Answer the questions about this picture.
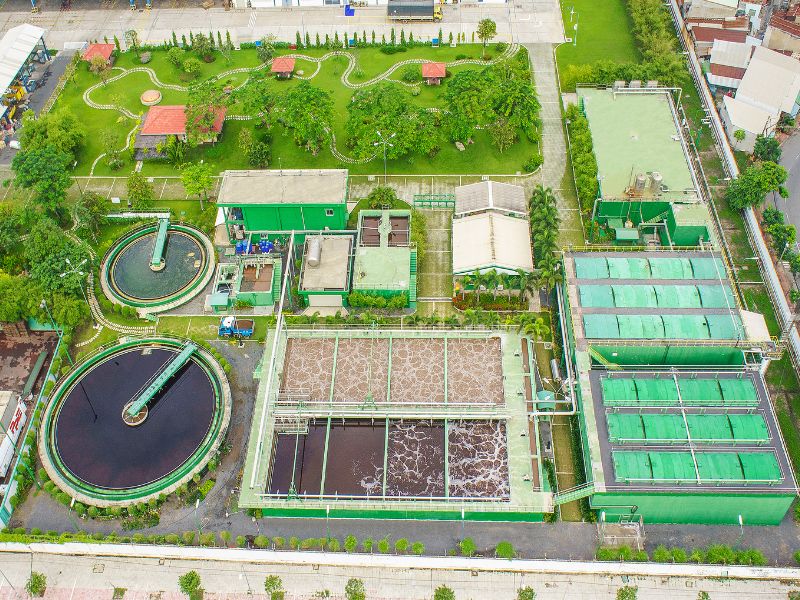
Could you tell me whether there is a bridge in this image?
Yes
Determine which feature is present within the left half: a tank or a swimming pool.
tank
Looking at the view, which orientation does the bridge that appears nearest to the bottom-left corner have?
diagonally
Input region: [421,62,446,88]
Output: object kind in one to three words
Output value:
building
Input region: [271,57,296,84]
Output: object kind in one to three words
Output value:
building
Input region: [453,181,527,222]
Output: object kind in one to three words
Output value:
shed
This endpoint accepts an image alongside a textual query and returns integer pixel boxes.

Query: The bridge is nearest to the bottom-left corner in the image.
[124,345,199,419]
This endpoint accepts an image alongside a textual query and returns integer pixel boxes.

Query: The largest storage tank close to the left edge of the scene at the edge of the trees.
[30,330,236,509]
